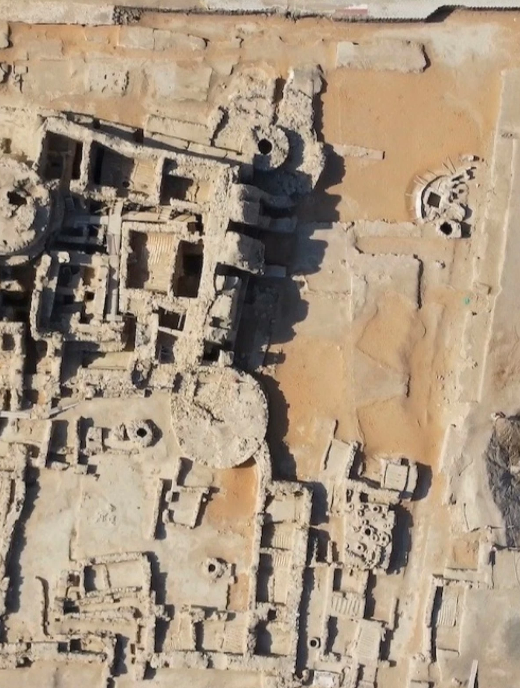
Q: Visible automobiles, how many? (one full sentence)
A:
The count of automobiles is 0.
